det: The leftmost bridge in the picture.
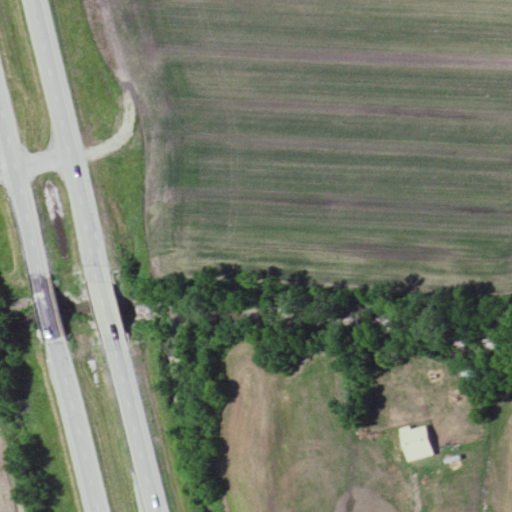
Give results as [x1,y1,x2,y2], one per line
[30,274,66,338]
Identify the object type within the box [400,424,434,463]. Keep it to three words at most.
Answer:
house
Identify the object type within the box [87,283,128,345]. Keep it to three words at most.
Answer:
bridge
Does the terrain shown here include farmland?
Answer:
Yes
